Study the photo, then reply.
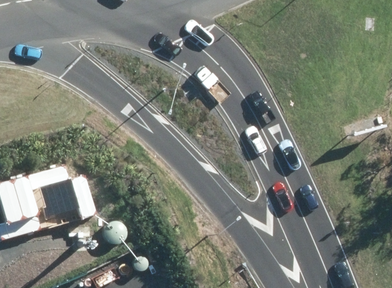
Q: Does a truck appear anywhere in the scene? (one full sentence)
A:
Yes, the picture does show a truck.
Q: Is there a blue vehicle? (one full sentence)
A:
Yes, looking at the shot, I can spot a blue vehicle.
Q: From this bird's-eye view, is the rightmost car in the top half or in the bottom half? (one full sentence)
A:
The bottom half of the photo is where the rightmost car is.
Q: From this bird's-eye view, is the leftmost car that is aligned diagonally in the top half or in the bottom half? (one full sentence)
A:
You can find the leftmost car that is aligned diagonally in the top half.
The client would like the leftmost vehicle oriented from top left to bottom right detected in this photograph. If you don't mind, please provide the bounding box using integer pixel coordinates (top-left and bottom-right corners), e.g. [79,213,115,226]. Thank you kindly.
[150,32,181,59]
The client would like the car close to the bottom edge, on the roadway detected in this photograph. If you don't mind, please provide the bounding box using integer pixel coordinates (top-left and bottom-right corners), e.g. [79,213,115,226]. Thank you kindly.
[332,260,353,288]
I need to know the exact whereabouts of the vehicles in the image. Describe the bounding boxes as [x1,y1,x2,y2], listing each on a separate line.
[298,184,318,212]
[271,181,293,213]
[194,66,230,103]
[184,20,214,46]
[278,138,300,171]
[332,260,353,288]
[14,44,42,60]
[150,32,181,59]
[248,92,276,125]
[244,126,268,156]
